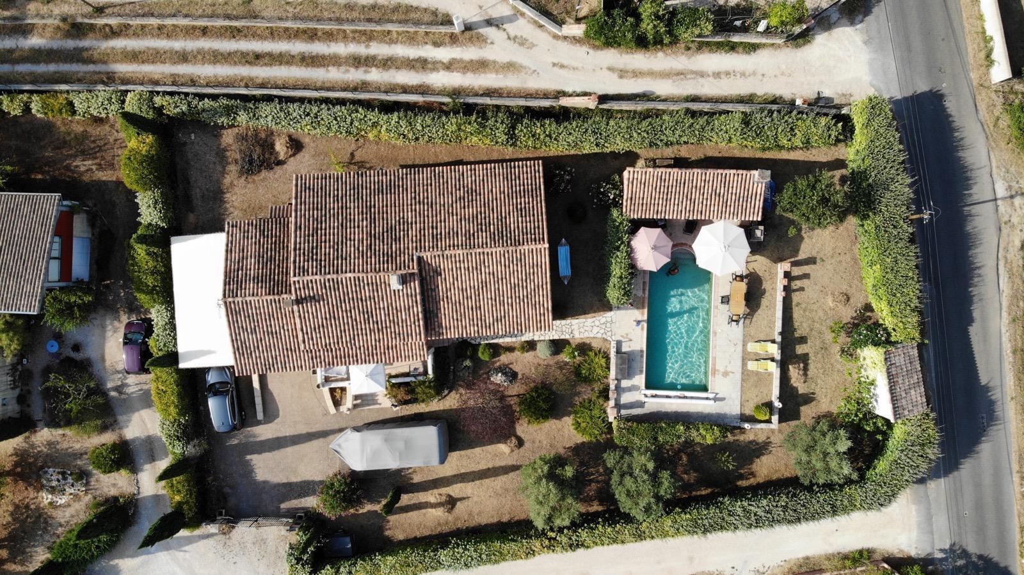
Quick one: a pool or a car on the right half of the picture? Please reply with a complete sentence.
The one visible on the right half of the picture is a pool.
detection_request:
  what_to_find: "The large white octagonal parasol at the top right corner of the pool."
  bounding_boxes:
[692,222,746,275]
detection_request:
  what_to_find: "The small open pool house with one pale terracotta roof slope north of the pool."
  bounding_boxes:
[621,168,772,223]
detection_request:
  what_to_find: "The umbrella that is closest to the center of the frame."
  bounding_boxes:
[629,229,671,271]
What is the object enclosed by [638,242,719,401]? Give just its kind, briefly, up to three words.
swimming pool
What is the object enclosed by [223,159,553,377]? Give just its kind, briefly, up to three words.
house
